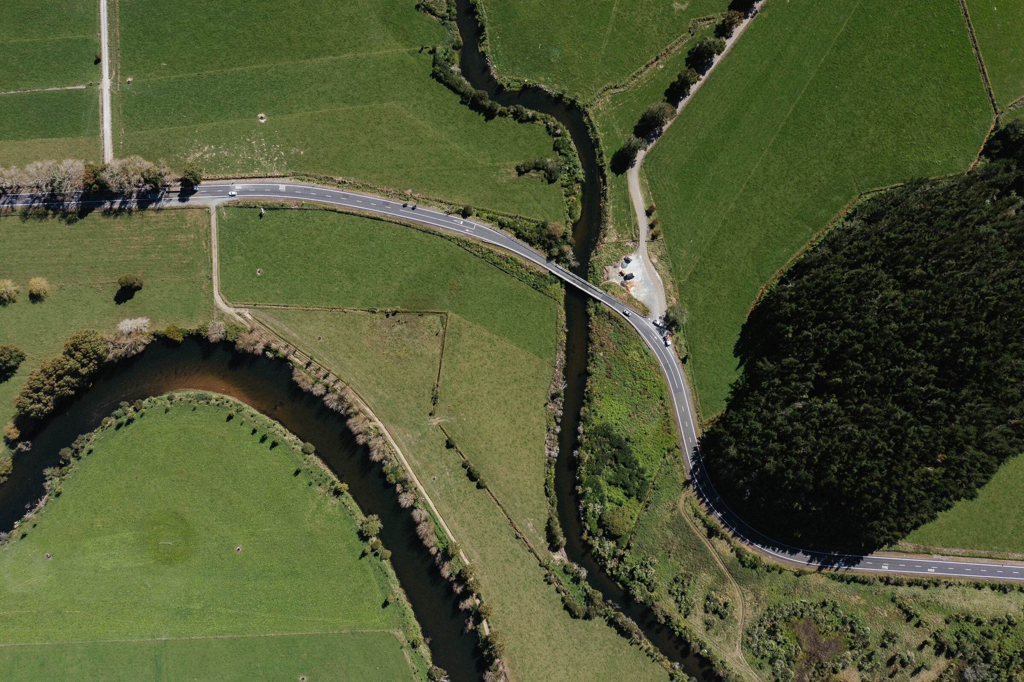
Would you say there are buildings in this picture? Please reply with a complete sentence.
No, there is no building in the image.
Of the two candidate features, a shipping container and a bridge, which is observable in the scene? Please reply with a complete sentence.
It is a bridge that can be seen here.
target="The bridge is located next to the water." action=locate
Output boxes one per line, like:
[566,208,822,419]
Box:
[552,263,606,301]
